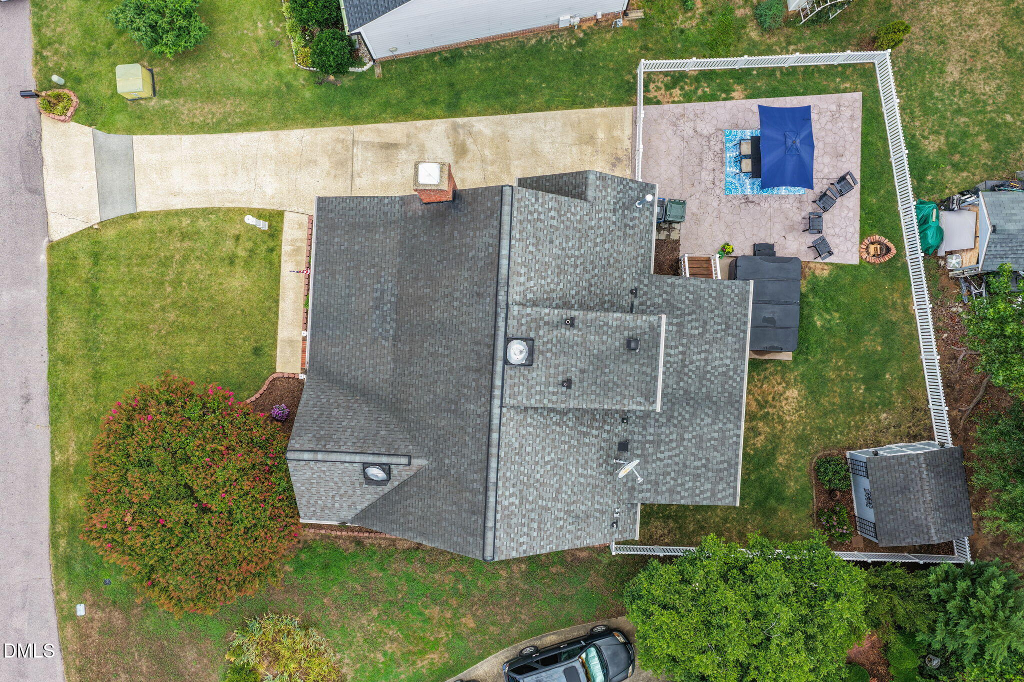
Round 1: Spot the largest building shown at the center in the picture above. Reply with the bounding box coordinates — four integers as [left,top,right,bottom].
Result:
[284,162,754,562]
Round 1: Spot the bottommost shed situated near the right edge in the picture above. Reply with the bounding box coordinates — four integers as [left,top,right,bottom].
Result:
[846,440,974,547]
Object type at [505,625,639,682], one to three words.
car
